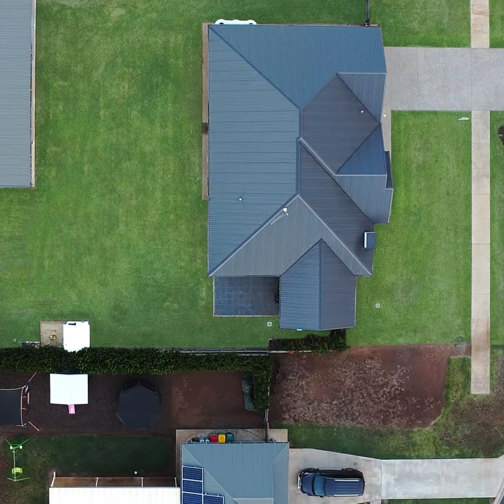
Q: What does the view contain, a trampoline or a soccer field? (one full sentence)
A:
This aerial view contains a trampoline.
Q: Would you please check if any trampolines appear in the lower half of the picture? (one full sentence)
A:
Yes, you'll find a trampoline in the lower half of the picture.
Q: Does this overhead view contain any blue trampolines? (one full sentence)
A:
No, I can see no blue trampoline in this picture.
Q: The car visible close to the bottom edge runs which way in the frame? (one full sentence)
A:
In this picture, the car visible close to the bottom edge lies horizontally.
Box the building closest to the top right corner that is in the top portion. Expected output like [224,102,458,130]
[207,24,394,331]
